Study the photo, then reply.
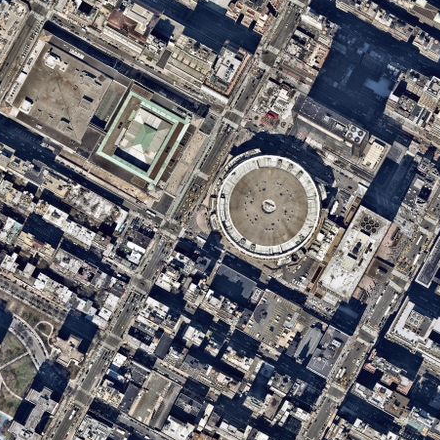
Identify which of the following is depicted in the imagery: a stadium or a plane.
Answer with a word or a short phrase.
stadium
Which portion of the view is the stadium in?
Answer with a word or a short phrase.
center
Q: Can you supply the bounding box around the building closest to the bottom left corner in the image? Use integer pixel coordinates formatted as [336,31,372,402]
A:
[6,383,64,440]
